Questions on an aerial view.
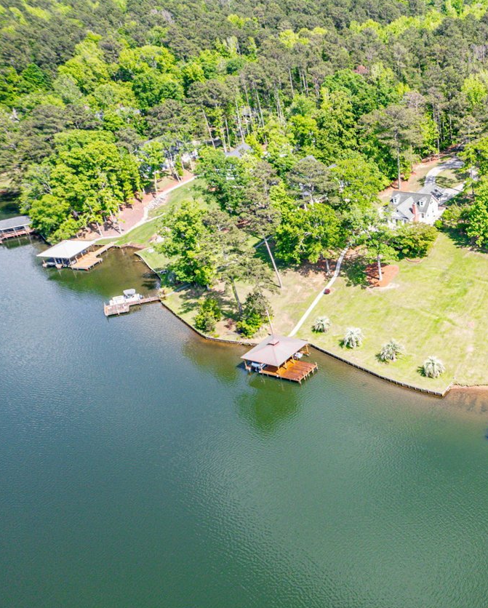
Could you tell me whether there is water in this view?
Yes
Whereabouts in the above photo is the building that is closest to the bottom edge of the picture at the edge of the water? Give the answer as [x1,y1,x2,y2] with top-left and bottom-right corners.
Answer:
[241,333,323,386]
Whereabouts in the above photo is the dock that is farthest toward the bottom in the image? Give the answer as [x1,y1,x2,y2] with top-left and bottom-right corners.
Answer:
[107,297,161,319]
